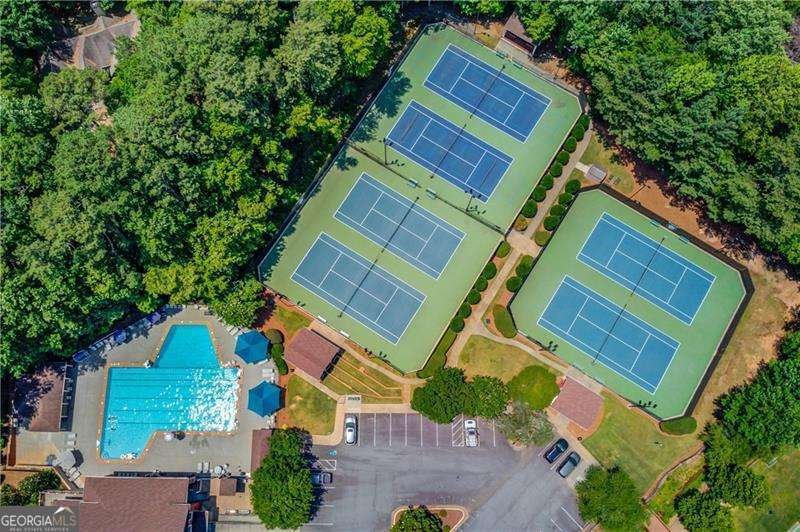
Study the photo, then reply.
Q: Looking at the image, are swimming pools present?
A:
Yes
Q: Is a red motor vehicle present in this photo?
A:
No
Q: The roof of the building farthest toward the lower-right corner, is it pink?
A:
Yes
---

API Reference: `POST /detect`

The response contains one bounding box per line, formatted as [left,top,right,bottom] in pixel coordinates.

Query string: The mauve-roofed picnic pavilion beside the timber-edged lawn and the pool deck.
[285,329,341,374]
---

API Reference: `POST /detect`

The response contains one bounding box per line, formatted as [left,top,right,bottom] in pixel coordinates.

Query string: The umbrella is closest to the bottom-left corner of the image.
[52,452,73,472]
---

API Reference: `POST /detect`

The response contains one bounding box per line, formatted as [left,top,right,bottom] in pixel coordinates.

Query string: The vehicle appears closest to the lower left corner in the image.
[307,473,334,486]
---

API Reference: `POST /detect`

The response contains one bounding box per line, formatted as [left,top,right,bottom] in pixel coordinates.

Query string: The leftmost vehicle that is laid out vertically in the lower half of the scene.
[344,416,357,445]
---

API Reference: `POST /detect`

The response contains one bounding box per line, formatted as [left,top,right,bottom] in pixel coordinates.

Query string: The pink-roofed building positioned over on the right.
[552,377,604,430]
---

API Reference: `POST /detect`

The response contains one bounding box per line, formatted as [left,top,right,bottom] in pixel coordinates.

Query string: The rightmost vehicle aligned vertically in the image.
[464,418,477,449]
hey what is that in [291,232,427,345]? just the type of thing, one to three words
tennis court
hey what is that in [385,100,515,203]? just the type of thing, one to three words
tennis court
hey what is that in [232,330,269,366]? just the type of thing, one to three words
umbrella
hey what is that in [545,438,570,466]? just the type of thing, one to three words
car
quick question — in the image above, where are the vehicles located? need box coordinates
[557,452,583,480]
[344,416,357,445]
[307,473,334,486]
[464,418,477,449]
[545,438,570,466]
